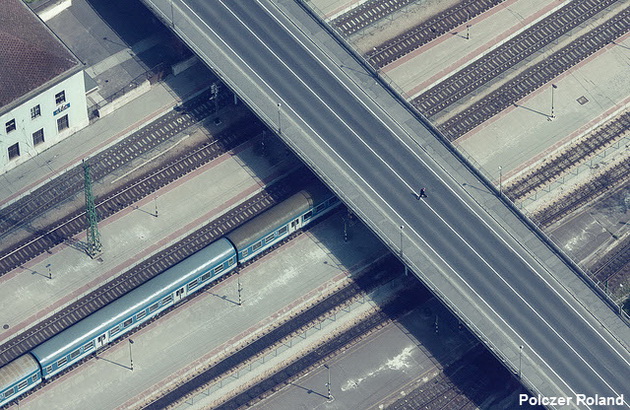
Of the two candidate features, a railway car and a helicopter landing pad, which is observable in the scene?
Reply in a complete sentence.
Visible in the photo is a railway car.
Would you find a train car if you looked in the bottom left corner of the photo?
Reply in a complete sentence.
Yes, a train car appears in the bottom left corner of the photo.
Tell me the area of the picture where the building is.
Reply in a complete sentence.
The building is located in the top left region of the scene.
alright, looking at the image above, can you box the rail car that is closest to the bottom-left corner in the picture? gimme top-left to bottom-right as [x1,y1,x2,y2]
[0,350,41,405]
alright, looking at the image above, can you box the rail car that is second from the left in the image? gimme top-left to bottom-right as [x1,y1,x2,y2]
[27,233,237,379]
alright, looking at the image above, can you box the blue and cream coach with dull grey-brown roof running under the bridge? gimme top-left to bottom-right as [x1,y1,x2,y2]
[223,175,342,262]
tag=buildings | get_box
[0,0,99,175]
